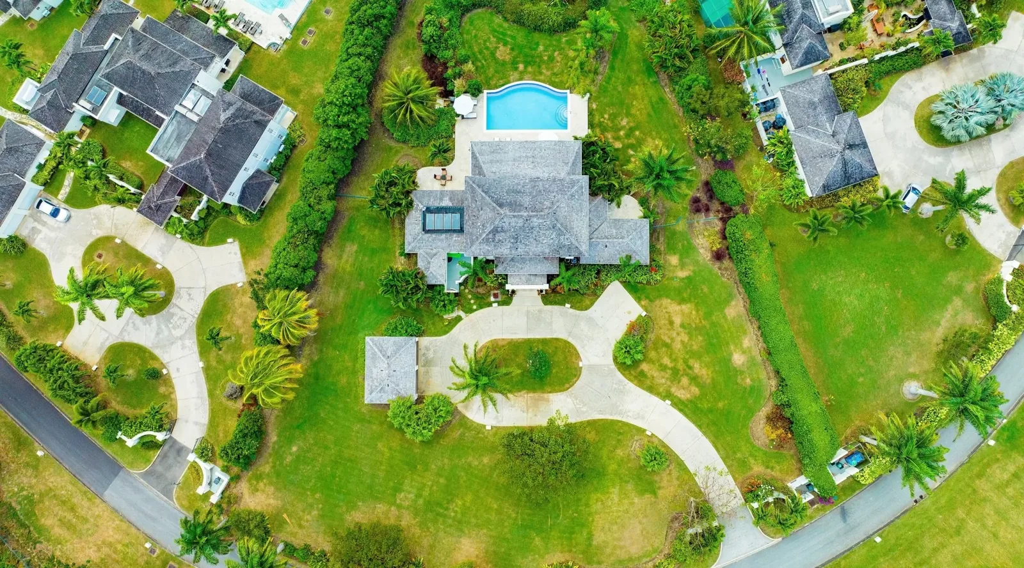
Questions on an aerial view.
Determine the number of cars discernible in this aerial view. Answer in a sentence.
I count 2 cars.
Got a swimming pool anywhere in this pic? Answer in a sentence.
Yes, you can see a swimming pool in this photo.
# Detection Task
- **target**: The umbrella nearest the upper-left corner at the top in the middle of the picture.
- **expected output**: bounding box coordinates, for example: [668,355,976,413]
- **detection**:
[453,95,473,115]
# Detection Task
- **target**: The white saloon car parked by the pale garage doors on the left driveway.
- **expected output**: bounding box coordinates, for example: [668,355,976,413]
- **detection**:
[38,200,73,223]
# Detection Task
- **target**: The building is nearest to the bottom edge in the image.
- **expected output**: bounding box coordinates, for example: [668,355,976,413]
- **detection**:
[364,336,421,404]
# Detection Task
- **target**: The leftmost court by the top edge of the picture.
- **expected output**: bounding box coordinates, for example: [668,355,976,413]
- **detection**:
[698,0,733,29]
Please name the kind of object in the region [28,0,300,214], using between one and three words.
house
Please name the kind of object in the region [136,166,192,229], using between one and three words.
building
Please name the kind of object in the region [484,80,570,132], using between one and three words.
swimming pool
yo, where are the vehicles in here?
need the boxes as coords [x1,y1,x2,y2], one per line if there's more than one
[38,200,73,223]
[897,182,924,215]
